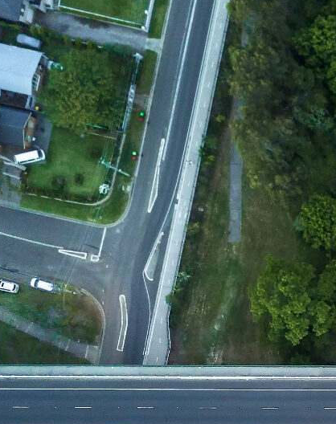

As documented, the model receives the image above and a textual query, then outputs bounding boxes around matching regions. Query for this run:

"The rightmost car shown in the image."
[28,277,54,291]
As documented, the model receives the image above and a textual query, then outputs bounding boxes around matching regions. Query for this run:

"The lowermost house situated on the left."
[0,106,37,150]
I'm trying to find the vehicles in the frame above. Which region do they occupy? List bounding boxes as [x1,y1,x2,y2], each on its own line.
[28,277,54,291]
[12,147,44,164]
[0,280,17,292]
[15,31,40,46]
